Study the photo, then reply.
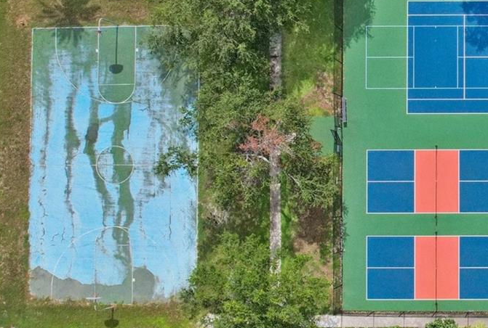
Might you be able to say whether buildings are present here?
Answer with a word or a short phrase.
No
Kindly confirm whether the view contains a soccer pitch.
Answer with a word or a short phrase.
No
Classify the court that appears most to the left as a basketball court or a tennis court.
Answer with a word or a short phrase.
basketball court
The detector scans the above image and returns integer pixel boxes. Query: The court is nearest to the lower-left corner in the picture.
[28,25,198,303]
